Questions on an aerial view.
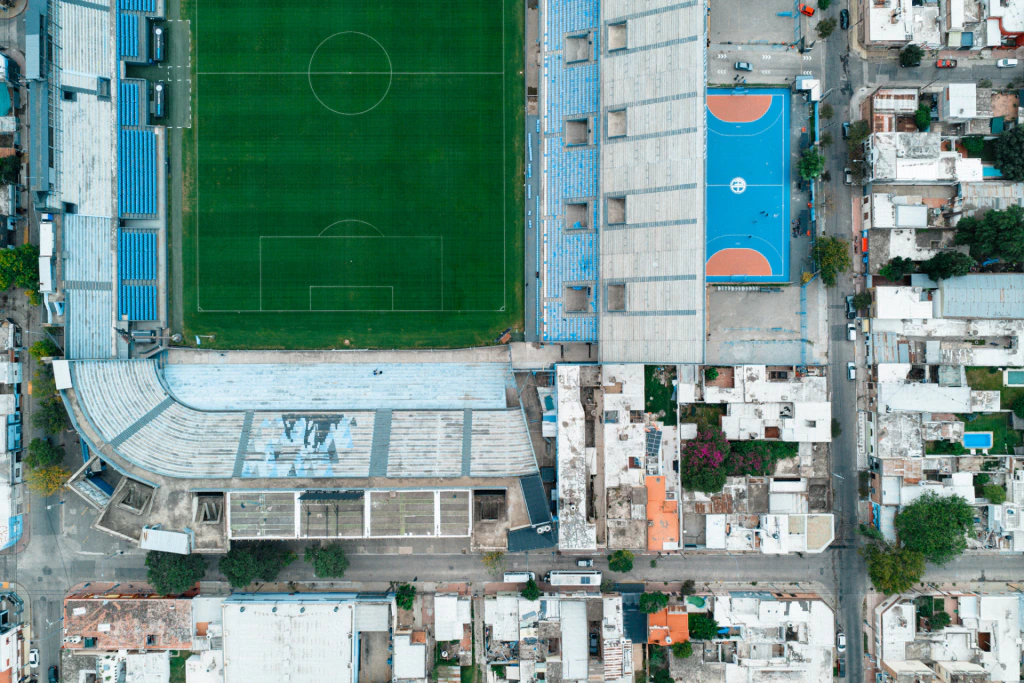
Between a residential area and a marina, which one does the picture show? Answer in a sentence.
This looks like a residential area.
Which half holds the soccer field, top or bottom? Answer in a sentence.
The soccer field sits in the top half of the picture.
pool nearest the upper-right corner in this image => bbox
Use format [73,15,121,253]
[982,162,1006,179]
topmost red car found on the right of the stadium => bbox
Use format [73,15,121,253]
[796,3,816,18]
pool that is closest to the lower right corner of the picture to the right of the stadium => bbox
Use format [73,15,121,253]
[963,432,994,450]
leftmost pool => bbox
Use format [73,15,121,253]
[685,596,709,612]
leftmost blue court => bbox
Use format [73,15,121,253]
[707,88,790,282]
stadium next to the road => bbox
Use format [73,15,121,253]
[25,0,709,553]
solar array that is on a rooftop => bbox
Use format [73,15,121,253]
[645,426,661,457]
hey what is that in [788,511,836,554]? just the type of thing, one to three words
house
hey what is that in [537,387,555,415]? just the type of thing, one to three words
shed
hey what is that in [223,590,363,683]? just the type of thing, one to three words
building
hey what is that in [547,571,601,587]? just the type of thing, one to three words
vehicle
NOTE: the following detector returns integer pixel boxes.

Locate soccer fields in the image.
[146,0,525,352]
